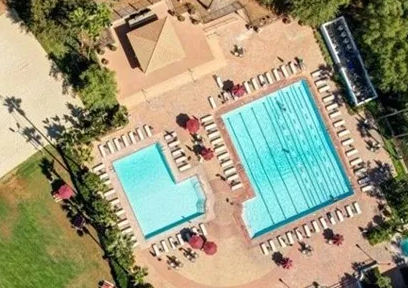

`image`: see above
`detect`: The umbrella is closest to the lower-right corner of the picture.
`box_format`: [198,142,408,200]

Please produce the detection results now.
[333,231,348,246]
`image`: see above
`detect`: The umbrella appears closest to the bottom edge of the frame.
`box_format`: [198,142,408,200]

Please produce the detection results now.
[281,256,295,270]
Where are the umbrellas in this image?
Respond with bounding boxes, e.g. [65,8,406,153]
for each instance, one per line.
[202,147,215,160]
[234,82,249,96]
[187,117,201,132]
[55,183,71,199]
[190,236,205,250]
[203,240,219,255]
[333,231,348,246]
[281,256,295,270]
